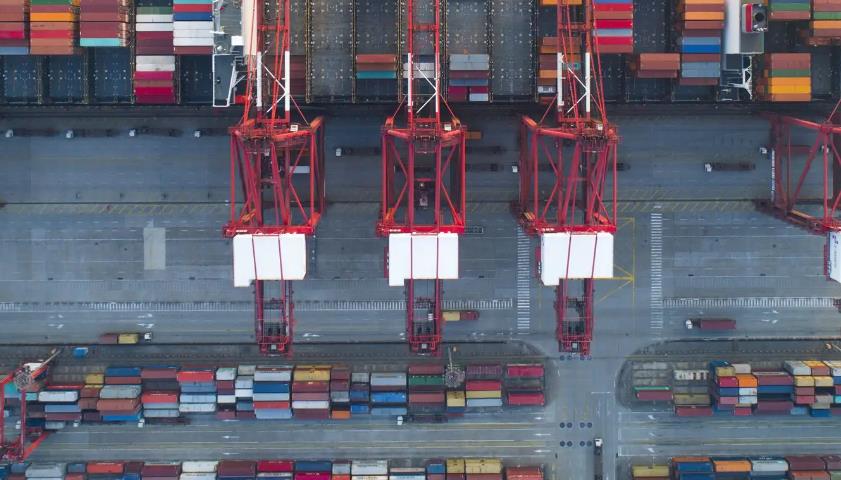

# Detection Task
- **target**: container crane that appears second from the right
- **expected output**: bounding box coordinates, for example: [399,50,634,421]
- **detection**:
[503,0,619,363]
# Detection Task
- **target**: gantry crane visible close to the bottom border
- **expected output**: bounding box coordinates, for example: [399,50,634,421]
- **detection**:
[0,358,62,464]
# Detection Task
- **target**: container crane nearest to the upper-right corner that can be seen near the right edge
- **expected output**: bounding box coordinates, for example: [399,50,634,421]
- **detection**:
[747,109,841,286]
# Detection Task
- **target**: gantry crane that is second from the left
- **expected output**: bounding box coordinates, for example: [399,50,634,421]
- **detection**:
[227,0,343,364]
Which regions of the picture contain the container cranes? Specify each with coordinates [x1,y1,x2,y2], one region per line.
[747,109,841,286]
[227,0,343,364]
[0,358,62,464]
[503,0,619,363]
[378,0,469,364]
